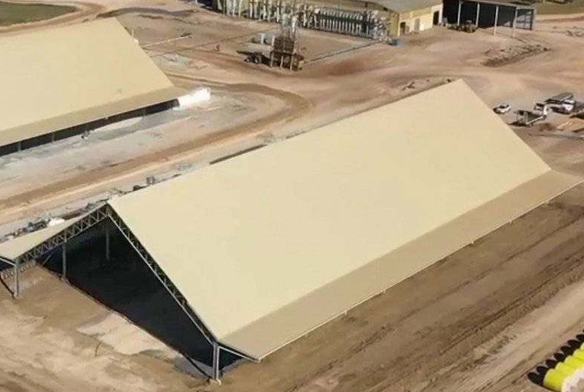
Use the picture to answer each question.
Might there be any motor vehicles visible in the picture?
Yes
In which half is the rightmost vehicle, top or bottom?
top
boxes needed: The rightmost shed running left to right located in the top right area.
[438,0,538,37]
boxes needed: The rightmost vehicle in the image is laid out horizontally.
[539,91,584,111]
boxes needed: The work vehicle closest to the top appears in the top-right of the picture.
[452,20,469,32]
